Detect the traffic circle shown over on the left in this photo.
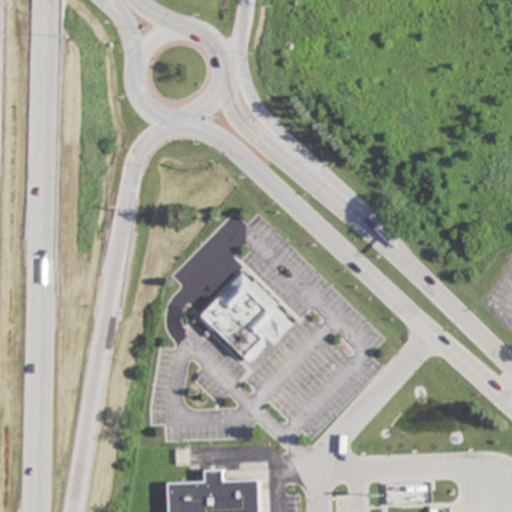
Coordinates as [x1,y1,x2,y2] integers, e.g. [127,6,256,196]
[124,20,236,128]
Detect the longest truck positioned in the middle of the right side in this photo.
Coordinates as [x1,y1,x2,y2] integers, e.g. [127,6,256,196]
[370,226,392,250]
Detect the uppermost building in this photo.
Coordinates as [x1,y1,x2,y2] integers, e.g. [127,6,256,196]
[200,272,293,362]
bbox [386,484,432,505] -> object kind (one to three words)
building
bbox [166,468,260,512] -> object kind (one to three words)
building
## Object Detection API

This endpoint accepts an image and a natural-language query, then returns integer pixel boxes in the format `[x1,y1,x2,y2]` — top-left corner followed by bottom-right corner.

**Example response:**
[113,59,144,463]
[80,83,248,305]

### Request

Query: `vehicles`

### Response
[370,226,392,250]
[438,334,450,346]
[28,362,34,374]
[26,466,32,476]
[34,186,40,198]
[190,34,202,43]
[488,378,502,390]
[338,433,346,460]
[424,274,436,286]
[40,250,48,286]
[211,56,218,69]
[347,262,360,274]
[278,264,292,278]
